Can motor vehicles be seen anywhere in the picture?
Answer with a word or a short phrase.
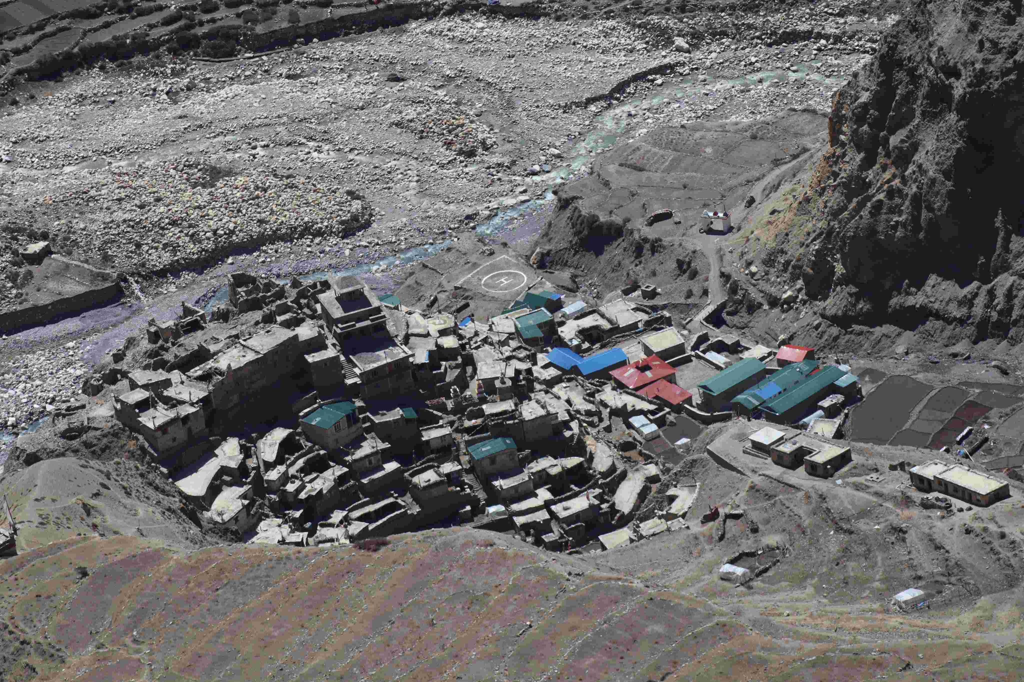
No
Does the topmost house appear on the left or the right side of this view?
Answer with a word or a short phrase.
left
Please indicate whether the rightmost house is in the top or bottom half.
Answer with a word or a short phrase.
bottom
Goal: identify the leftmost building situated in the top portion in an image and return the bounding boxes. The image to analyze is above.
[20,241,51,264]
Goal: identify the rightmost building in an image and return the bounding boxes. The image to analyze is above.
[934,463,1008,507]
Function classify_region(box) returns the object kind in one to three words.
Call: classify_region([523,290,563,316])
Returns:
shed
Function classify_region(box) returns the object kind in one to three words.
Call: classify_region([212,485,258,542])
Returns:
house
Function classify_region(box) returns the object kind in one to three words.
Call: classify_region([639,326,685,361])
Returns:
house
